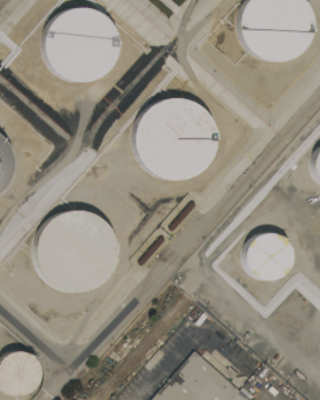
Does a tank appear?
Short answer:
Yes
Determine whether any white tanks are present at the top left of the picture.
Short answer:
Yes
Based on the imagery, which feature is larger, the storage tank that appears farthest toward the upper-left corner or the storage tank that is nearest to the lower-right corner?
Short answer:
the storage tank that appears farthest toward the upper-left corner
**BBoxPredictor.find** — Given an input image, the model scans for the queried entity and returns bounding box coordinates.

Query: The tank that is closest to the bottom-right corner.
[240,232,294,282]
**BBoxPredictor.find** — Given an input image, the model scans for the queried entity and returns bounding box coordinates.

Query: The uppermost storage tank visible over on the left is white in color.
[40,7,120,85]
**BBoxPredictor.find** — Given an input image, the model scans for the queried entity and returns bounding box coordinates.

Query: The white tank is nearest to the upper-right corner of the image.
[234,0,316,67]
